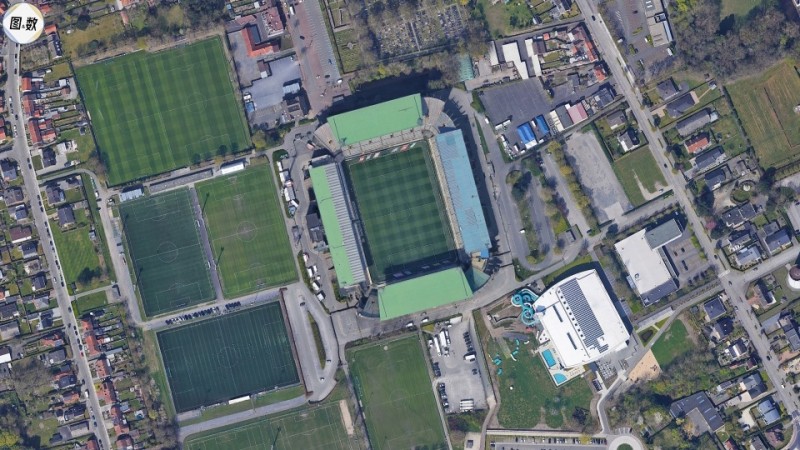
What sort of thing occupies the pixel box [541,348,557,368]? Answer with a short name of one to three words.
swimming pool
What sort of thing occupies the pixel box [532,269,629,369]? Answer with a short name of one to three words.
building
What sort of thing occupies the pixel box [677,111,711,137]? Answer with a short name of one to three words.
house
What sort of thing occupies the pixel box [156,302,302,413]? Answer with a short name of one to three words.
soccer field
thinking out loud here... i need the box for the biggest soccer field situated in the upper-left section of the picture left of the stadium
[76,35,252,187]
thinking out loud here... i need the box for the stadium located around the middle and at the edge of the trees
[309,92,491,322]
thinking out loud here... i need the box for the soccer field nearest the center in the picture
[346,142,458,284]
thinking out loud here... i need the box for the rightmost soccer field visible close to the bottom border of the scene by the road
[346,333,448,450]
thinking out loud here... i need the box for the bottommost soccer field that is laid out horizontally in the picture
[184,401,359,450]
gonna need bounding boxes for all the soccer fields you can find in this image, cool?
[196,162,300,301]
[184,401,359,450]
[346,142,458,284]
[76,35,252,187]
[346,333,448,450]
[118,186,217,319]
[156,302,302,413]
